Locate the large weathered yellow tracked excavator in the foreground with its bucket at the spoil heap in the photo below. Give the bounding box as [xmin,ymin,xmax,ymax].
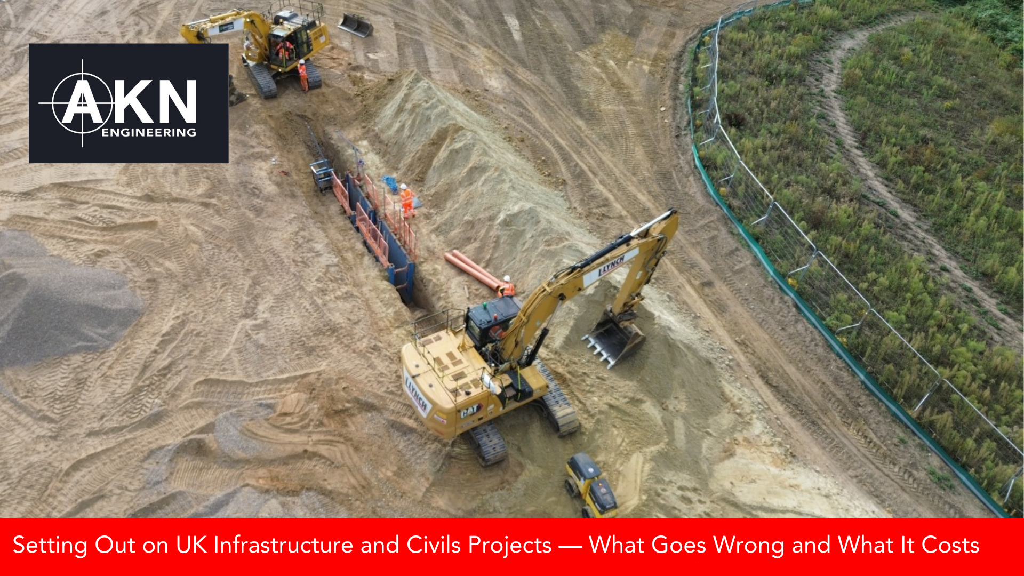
[399,204,678,461]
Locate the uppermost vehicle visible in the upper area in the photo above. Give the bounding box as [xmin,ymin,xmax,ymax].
[177,0,331,107]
